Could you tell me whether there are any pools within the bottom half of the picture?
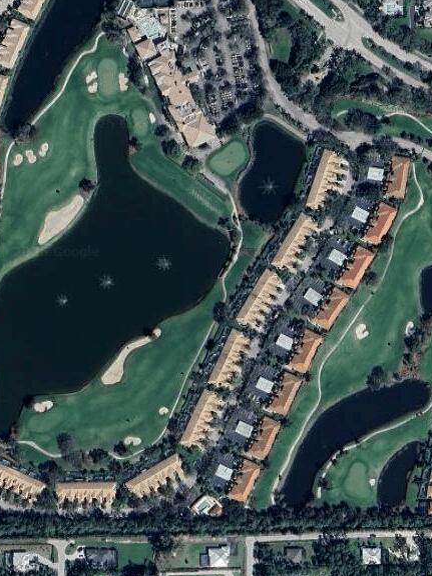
Yes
